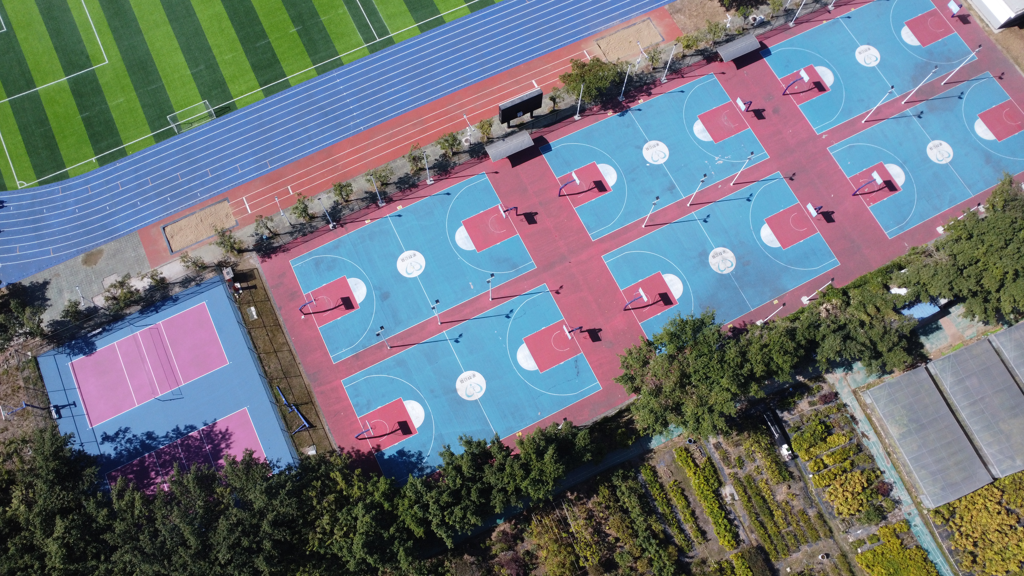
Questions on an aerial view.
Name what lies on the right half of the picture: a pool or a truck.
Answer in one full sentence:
Looking on the right half of the picture, you will find a truck.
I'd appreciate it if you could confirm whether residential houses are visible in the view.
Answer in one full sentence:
Yes, a residential house appears in the view.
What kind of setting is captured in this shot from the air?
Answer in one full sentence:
The area seen from above is a sports ground.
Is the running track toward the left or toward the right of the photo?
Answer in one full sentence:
The running track appears in the left half of the scene.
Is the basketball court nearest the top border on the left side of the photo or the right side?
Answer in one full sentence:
The basketball court nearest the top border appears in the right half of the scene.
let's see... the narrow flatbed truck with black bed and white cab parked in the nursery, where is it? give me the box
[759,409,796,461]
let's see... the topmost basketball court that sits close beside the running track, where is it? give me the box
[761,0,976,134]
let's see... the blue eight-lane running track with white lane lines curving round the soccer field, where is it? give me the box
[0,0,675,267]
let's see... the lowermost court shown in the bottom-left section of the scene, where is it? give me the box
[110,405,270,538]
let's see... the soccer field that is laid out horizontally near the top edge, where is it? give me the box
[0,0,502,191]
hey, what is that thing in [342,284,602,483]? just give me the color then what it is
blue basketball court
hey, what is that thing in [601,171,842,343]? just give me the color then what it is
blue basketball court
